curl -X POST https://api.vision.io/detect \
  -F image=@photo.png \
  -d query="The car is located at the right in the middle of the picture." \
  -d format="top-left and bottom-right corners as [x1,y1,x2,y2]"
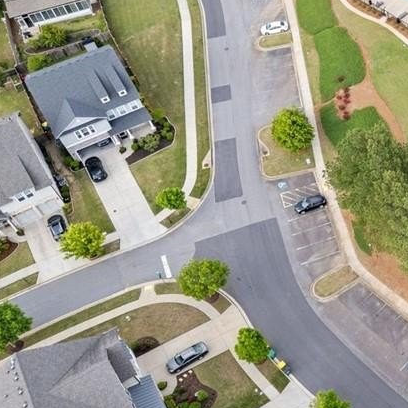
[293,191,327,214]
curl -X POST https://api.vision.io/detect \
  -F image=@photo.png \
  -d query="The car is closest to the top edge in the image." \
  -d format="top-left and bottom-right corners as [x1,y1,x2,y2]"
[260,20,289,36]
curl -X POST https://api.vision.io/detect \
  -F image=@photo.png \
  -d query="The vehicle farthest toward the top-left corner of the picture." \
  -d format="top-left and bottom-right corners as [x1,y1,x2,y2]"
[80,154,109,183]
